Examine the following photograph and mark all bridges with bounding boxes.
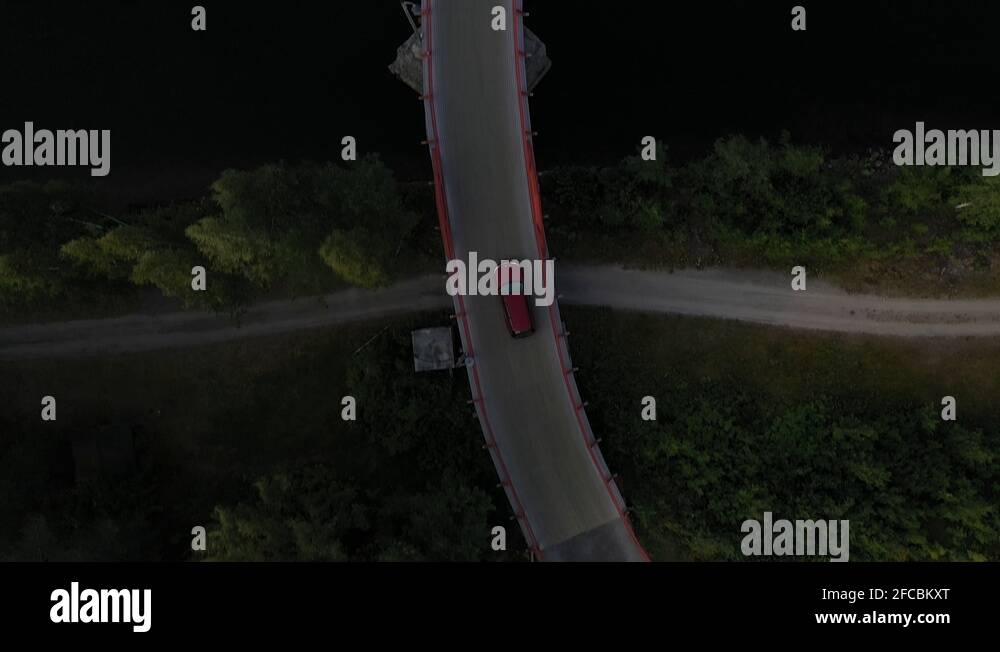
[390,0,699,652]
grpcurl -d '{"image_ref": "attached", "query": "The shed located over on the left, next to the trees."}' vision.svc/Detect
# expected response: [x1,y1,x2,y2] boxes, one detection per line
[77,419,151,480]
